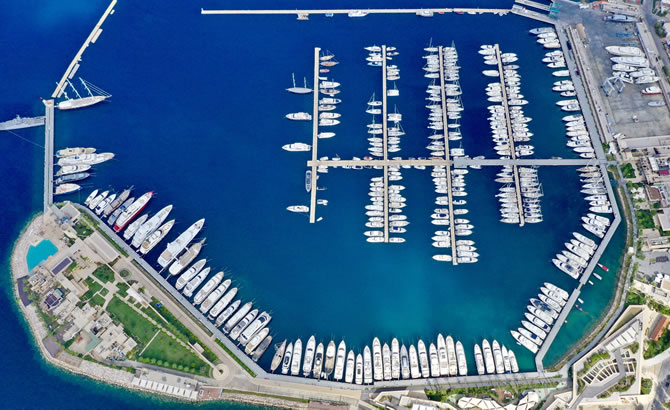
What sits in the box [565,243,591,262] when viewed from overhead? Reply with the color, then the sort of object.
white boat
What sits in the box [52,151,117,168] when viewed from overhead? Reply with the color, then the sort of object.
white boat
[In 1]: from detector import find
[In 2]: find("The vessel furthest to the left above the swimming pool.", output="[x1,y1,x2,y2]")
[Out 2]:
[0,111,50,146]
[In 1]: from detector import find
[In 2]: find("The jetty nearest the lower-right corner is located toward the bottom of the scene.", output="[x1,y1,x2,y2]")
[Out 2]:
[534,288,581,371]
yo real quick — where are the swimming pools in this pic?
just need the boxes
[26,239,59,273]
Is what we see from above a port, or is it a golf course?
port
